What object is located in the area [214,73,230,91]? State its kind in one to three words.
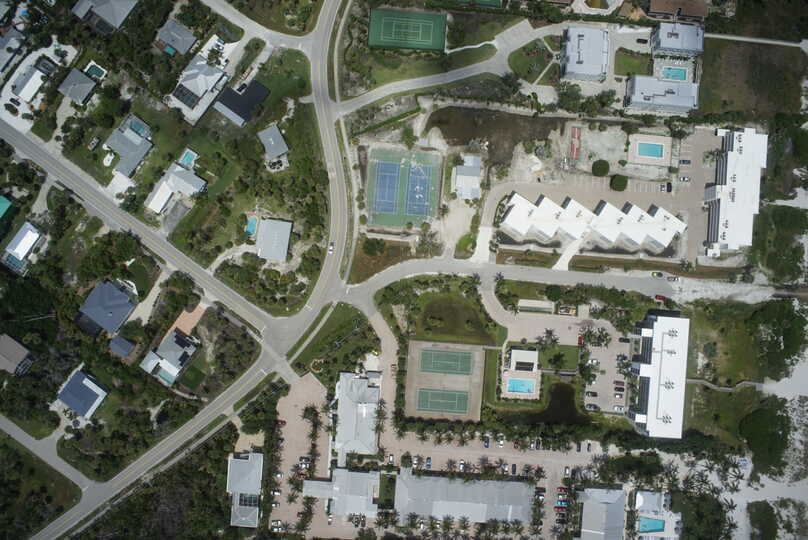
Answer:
camper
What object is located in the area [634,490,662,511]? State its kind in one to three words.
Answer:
building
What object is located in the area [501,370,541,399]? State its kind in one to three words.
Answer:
swimming pool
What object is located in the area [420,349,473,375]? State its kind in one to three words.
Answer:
tennis court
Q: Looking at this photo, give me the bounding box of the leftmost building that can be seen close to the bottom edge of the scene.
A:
[227,451,265,528]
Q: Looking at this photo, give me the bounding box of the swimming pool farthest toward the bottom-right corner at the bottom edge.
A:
[633,489,682,540]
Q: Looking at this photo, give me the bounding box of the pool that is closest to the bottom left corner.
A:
[152,366,175,390]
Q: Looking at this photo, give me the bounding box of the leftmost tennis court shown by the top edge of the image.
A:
[368,6,447,50]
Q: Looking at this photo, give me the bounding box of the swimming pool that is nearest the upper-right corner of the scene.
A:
[655,57,699,83]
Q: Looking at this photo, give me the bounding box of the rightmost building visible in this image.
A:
[701,128,769,257]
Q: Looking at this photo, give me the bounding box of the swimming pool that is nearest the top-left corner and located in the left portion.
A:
[14,2,29,27]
